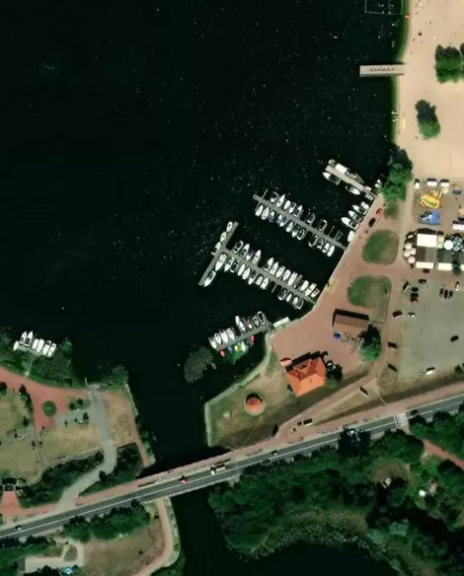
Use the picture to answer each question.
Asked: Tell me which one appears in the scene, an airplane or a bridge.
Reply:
bridge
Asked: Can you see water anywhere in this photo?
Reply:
Yes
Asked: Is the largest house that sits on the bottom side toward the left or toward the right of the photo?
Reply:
right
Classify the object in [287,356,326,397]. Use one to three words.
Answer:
house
